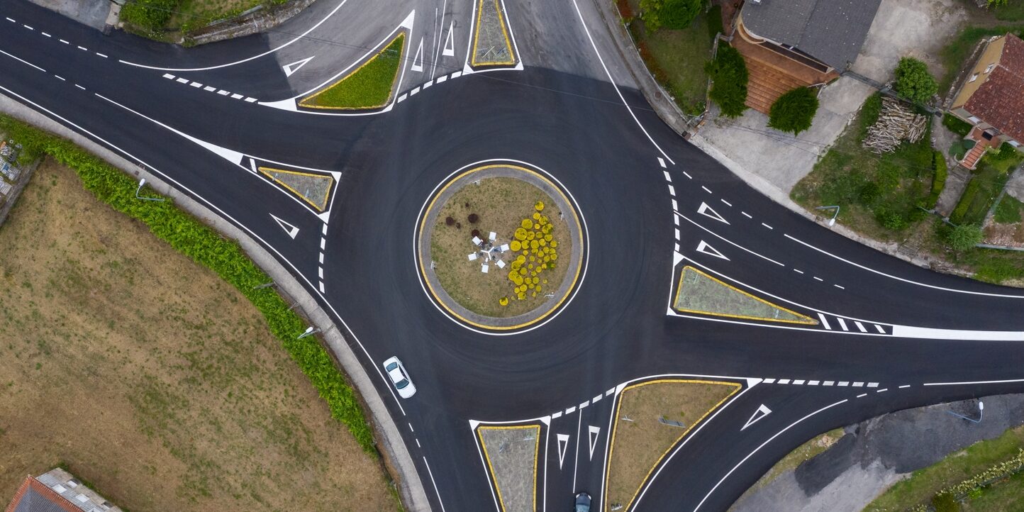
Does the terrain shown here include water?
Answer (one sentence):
No, there's no water in this view.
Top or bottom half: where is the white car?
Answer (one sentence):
It is in the bottom half that the white car appears.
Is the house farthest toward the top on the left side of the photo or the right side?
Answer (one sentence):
The house farthest toward the top appears in the right half of the scene.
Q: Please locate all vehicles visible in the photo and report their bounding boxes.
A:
[574,493,593,512]
[384,356,416,398]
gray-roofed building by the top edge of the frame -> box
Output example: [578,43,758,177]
[735,0,878,74]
